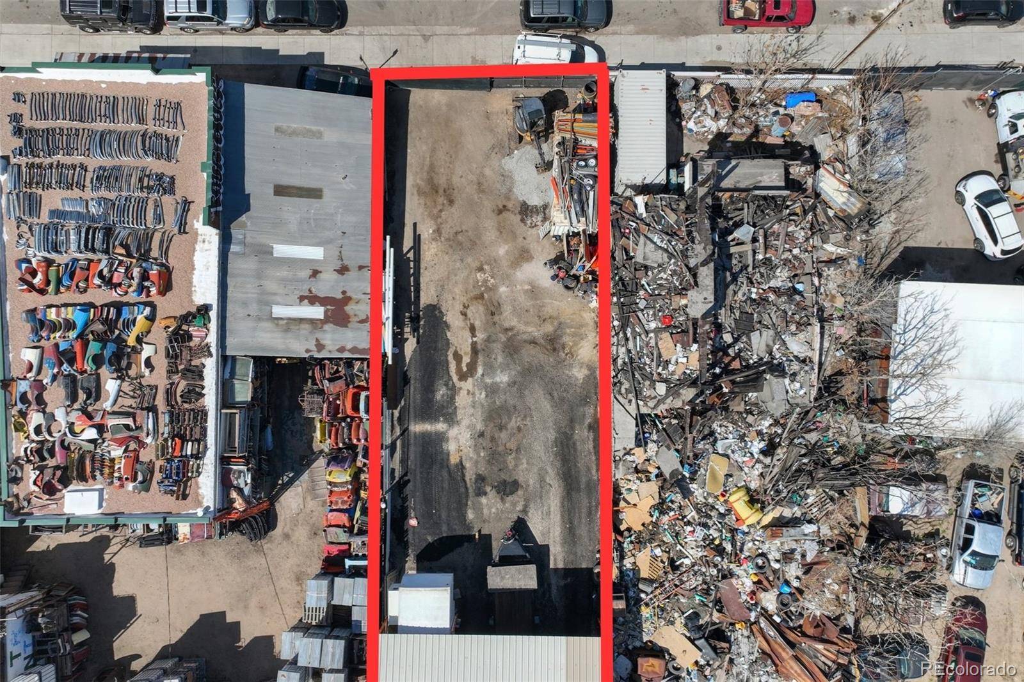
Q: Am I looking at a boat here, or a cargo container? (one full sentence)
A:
There is a cargo container in the scene.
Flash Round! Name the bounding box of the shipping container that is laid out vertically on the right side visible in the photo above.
[611,69,668,198]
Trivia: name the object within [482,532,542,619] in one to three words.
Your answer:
trailer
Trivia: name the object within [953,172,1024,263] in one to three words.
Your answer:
car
